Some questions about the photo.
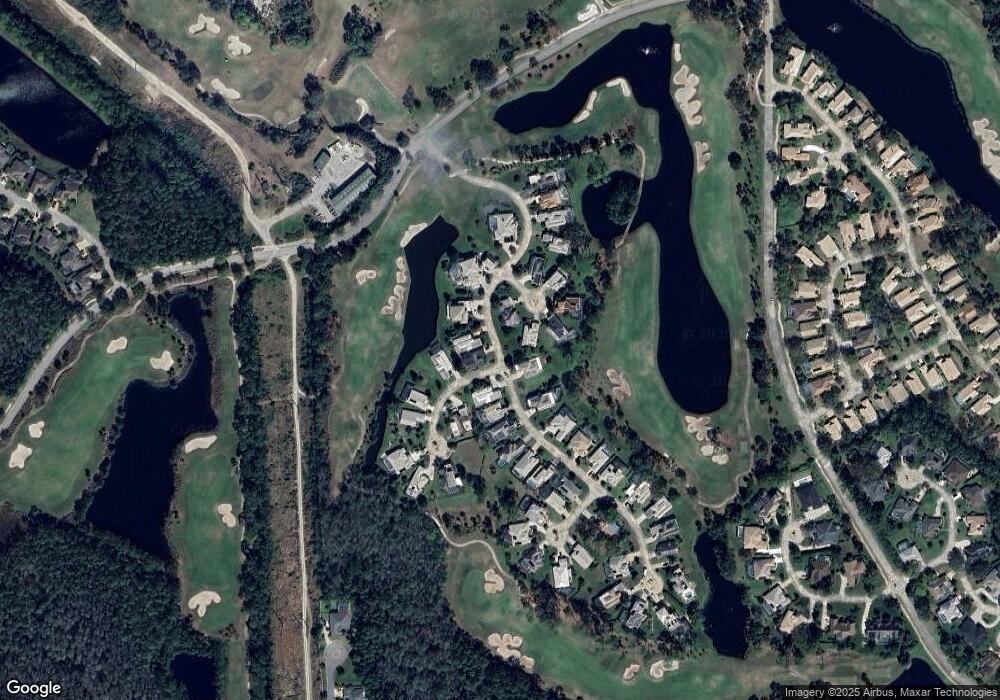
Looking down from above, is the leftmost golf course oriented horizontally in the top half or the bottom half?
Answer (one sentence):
It is in the top half that the leftmost golf course oriented horizontally appears.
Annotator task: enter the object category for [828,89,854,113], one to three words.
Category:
house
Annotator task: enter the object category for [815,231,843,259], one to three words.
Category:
house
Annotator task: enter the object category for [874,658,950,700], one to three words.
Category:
pond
